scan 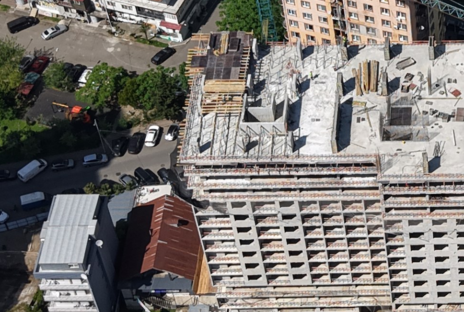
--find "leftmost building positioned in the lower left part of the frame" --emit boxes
[34,187,121,312]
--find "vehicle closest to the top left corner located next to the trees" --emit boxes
[8,12,38,36]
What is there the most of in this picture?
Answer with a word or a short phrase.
buildings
